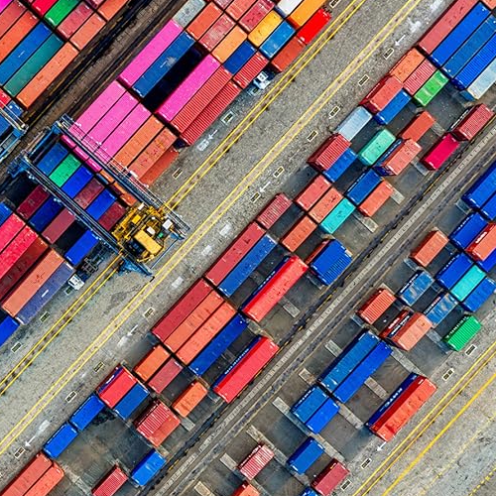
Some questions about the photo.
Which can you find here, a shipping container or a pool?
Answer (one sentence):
This aerial view contains a shipping container.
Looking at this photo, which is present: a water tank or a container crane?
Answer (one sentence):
It is a container crane that can be seen here.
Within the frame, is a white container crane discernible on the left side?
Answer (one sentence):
No, no white container crane appears on the left side.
